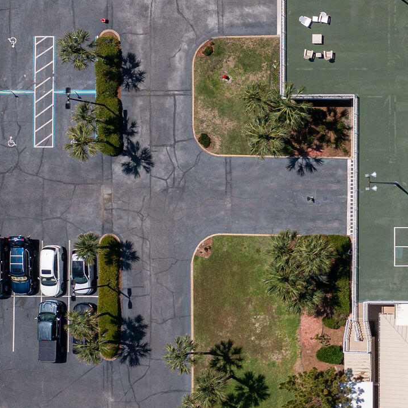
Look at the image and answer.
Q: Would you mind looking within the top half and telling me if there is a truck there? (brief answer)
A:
No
